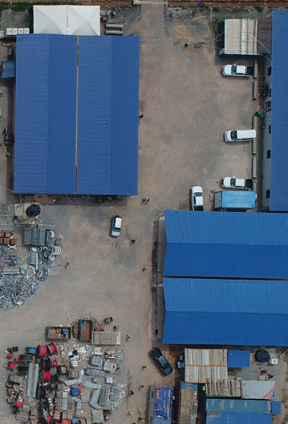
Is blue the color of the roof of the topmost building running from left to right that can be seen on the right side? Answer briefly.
Yes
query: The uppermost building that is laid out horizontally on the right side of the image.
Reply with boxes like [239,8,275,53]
[154,212,288,278]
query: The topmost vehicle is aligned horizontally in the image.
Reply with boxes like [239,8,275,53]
[219,63,251,77]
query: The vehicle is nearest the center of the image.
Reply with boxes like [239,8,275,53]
[108,213,123,241]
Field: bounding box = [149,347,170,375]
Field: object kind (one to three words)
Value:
car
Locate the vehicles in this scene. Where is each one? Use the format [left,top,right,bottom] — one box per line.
[221,130,255,143]
[219,63,251,77]
[149,347,170,375]
[108,213,123,241]
[219,176,251,191]
[188,183,204,212]
[208,191,255,210]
